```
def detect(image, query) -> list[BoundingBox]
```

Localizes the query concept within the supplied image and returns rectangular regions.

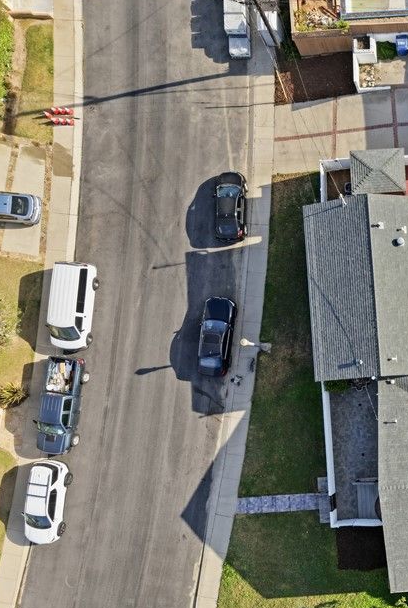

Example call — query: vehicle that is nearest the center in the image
[199,295,239,377]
